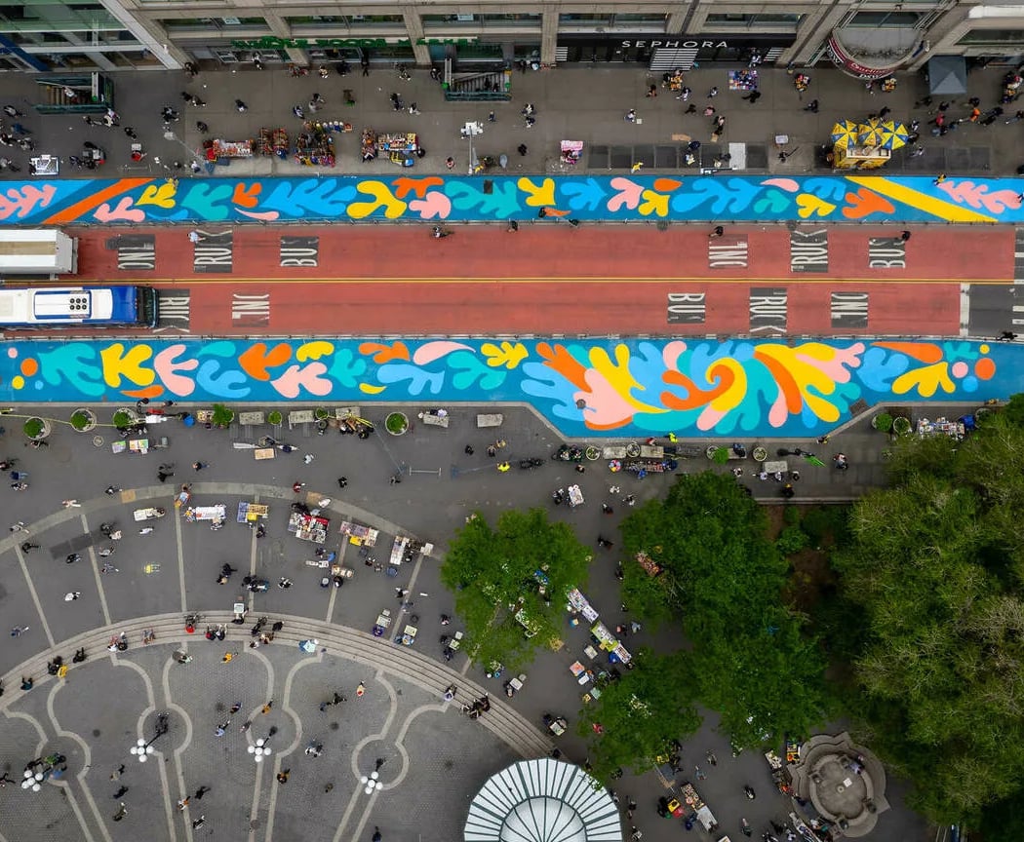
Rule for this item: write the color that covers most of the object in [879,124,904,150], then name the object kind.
yellow umbrella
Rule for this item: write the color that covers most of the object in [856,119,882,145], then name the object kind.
yellow umbrella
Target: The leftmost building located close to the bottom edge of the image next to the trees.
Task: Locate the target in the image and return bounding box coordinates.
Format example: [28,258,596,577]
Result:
[464,757,622,842]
